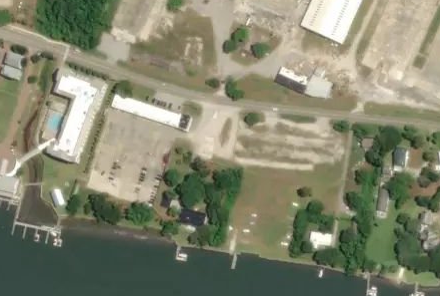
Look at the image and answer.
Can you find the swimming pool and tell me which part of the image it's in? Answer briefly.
left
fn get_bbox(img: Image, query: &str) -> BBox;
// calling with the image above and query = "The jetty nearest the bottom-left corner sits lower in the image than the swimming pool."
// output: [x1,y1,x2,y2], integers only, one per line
[0,195,61,243]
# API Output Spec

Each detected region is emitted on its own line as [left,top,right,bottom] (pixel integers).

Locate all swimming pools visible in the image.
[42,109,66,142]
